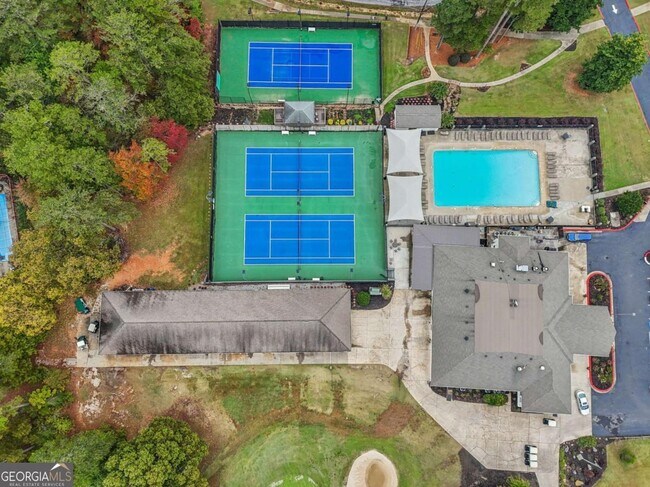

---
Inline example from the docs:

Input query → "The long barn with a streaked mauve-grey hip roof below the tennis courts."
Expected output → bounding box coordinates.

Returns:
[98,288,352,354]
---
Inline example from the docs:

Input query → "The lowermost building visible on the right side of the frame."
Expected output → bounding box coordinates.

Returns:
[409,225,615,414]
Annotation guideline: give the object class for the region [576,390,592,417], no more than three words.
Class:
car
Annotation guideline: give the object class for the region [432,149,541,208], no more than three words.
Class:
swimming pool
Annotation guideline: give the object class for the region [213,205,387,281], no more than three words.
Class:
tennis court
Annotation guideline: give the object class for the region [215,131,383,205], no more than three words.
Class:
tennis court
